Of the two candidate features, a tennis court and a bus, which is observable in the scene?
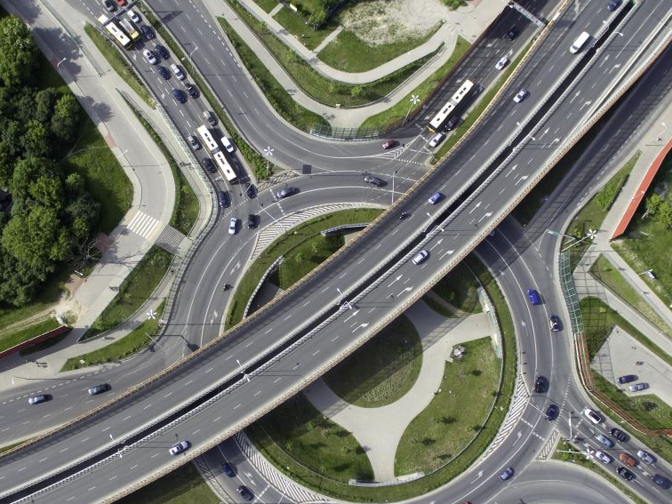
bus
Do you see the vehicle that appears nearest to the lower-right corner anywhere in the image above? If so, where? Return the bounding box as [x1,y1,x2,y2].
[653,473,672,490]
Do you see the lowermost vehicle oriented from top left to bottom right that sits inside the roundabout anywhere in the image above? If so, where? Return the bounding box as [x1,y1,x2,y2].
[237,484,252,502]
